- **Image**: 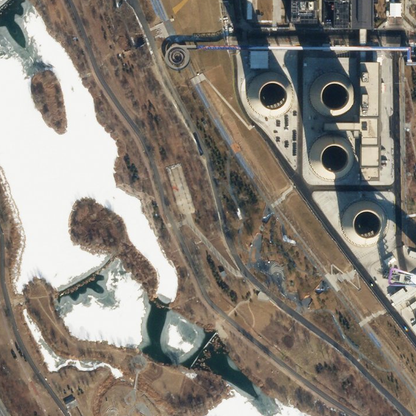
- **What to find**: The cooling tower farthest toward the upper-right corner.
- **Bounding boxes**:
[307,71,357,120]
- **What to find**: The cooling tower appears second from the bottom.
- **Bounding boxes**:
[308,134,358,183]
